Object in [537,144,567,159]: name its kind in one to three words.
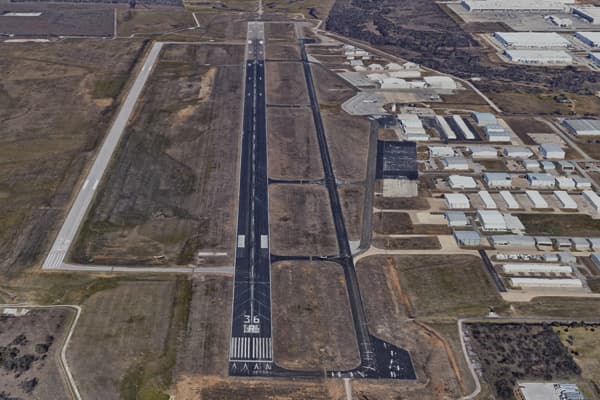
building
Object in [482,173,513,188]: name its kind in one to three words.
building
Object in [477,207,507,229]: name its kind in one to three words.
hangar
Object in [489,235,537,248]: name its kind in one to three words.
hangar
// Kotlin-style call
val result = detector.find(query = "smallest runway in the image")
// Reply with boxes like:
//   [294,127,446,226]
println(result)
[42,42,163,269]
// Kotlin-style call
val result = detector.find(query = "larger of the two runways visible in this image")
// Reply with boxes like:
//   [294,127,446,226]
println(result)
[228,31,273,377]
